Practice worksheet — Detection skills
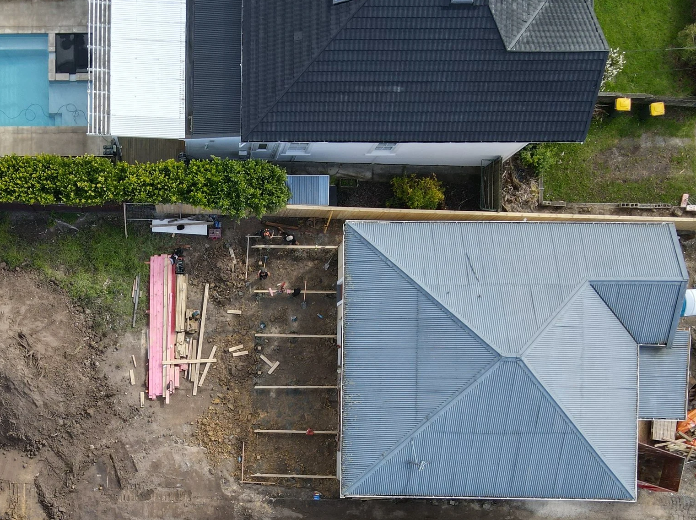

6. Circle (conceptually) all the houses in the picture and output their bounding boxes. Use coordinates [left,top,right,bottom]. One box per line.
[185,0,612,168]
[334,218,693,505]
